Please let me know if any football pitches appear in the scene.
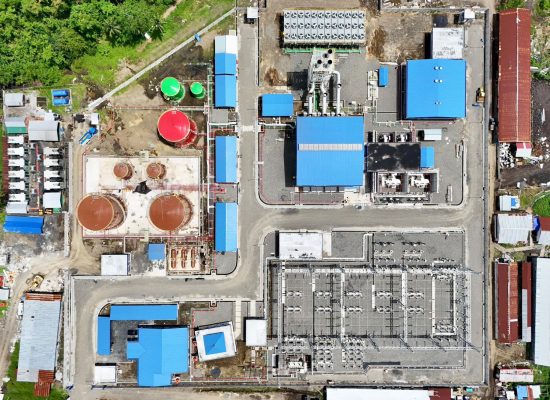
No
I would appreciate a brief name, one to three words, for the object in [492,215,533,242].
house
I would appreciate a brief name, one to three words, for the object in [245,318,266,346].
shed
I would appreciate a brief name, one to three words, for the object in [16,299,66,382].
barn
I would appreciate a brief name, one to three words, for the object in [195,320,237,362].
building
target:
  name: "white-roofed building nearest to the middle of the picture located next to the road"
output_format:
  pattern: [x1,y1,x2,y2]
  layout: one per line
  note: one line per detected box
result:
[279,232,323,259]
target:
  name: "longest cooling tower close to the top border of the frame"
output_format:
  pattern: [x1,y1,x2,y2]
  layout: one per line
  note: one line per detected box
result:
[280,9,365,53]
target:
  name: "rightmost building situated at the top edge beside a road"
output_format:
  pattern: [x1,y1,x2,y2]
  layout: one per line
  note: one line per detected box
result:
[493,9,531,142]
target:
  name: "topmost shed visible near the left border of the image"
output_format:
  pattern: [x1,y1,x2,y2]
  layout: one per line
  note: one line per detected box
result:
[4,93,28,108]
